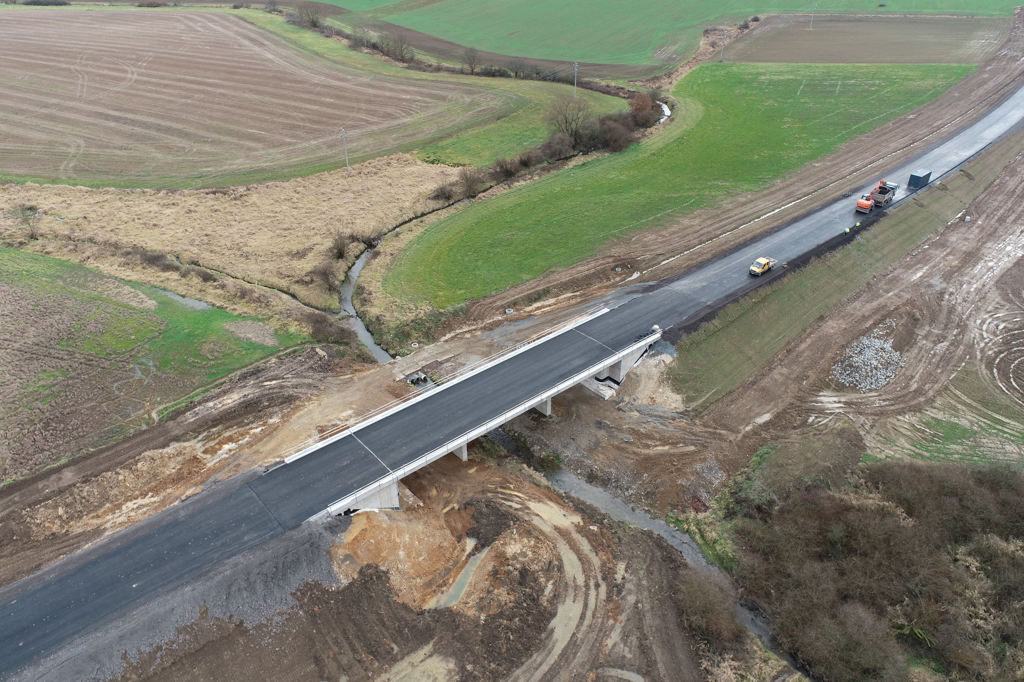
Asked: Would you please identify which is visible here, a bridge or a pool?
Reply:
bridge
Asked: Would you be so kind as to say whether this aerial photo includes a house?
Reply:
No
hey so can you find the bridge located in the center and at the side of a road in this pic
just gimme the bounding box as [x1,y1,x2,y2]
[281,301,660,518]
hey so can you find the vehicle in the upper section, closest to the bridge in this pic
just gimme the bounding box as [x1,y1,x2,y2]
[749,257,779,275]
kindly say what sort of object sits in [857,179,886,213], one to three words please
work vehicle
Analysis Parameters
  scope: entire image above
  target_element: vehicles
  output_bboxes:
[749,257,779,275]
[872,182,903,206]
[857,179,886,213]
